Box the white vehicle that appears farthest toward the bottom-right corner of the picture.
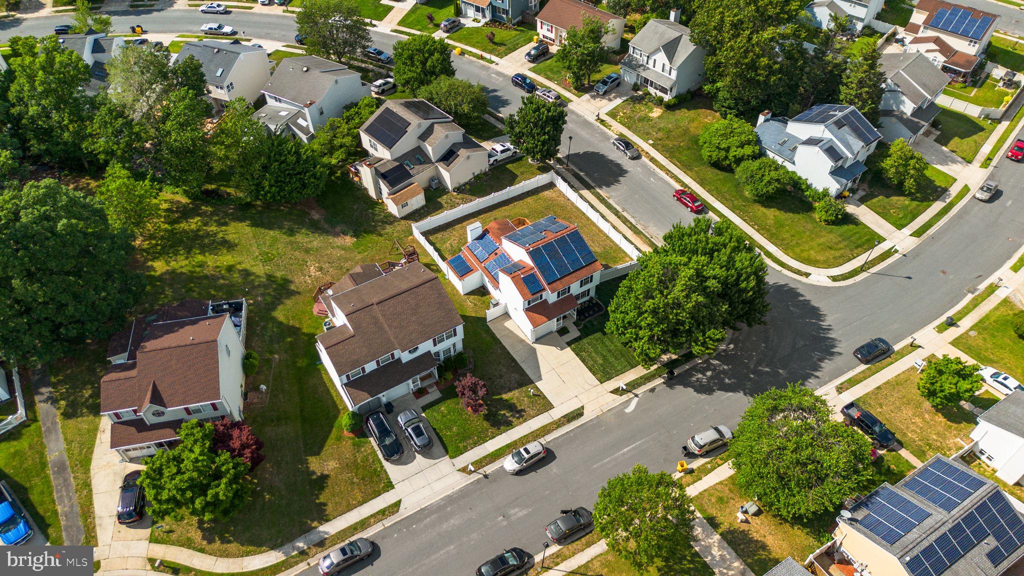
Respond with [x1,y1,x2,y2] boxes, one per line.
[977,366,1024,401]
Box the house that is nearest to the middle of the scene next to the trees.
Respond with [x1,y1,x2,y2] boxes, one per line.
[444,216,604,343]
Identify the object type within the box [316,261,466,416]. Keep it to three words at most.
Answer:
house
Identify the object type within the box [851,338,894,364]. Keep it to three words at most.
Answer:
car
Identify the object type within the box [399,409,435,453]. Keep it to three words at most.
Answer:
car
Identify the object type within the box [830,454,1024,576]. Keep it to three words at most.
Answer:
house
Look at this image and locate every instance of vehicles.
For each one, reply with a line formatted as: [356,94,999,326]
[292,36,318,50]
[596,71,621,93]
[542,506,597,546]
[526,41,549,61]
[851,338,894,364]
[47,23,81,35]
[275,0,288,5]
[370,77,398,94]
[202,25,232,37]
[1007,133,1024,157]
[972,179,1002,202]
[115,469,146,524]
[977,366,1024,401]
[248,41,266,55]
[672,189,707,213]
[489,143,522,165]
[438,17,463,33]
[685,424,735,456]
[473,544,532,576]
[366,48,392,63]
[399,409,435,453]
[317,536,377,576]
[259,0,271,5]
[199,4,227,16]
[365,412,400,459]
[836,396,902,451]
[535,86,565,103]
[510,71,537,92]
[610,138,642,159]
[502,438,549,475]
